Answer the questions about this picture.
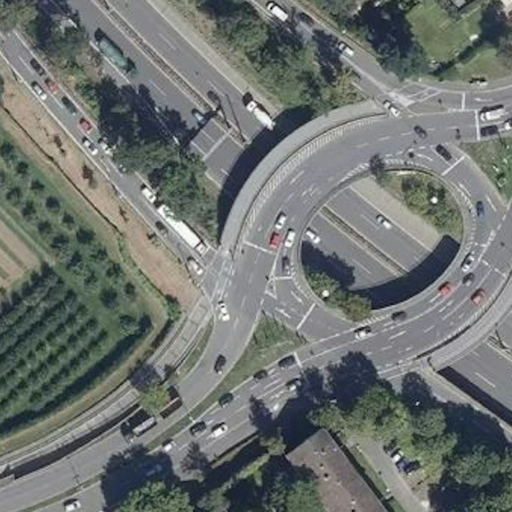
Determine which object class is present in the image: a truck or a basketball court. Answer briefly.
truck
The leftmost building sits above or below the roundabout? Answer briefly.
below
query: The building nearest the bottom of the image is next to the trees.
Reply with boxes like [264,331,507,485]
[286,429,389,512]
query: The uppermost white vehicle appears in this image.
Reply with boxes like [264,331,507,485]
[266,0,291,23]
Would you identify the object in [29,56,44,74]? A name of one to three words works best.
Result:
car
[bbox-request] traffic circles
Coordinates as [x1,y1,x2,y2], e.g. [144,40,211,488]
[212,109,512,378]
